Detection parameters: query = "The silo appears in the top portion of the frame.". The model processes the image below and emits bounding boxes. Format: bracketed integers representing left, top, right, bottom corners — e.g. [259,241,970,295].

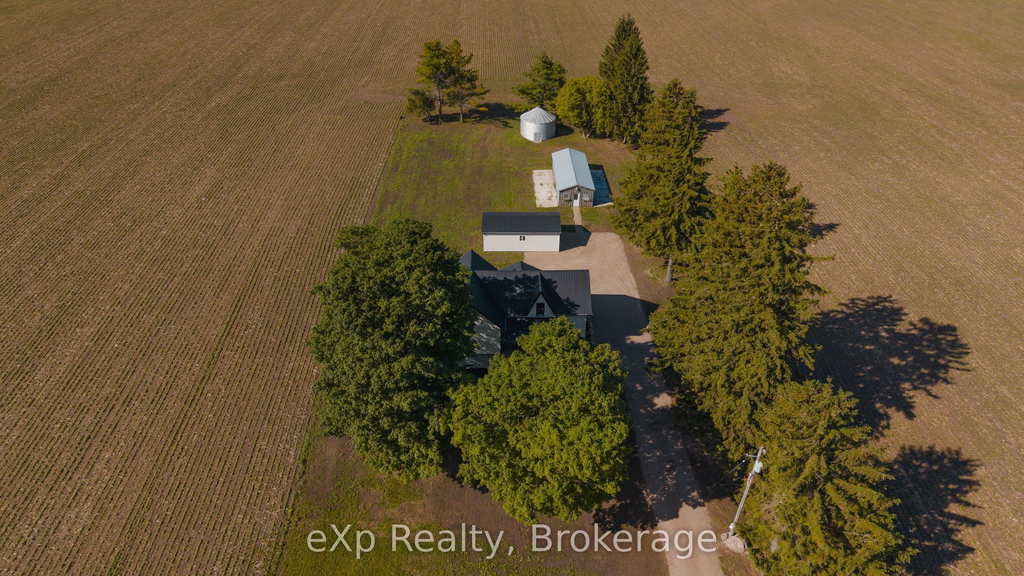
[520,106,556,143]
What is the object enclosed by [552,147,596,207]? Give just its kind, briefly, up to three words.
shed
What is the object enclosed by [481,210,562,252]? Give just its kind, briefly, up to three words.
building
